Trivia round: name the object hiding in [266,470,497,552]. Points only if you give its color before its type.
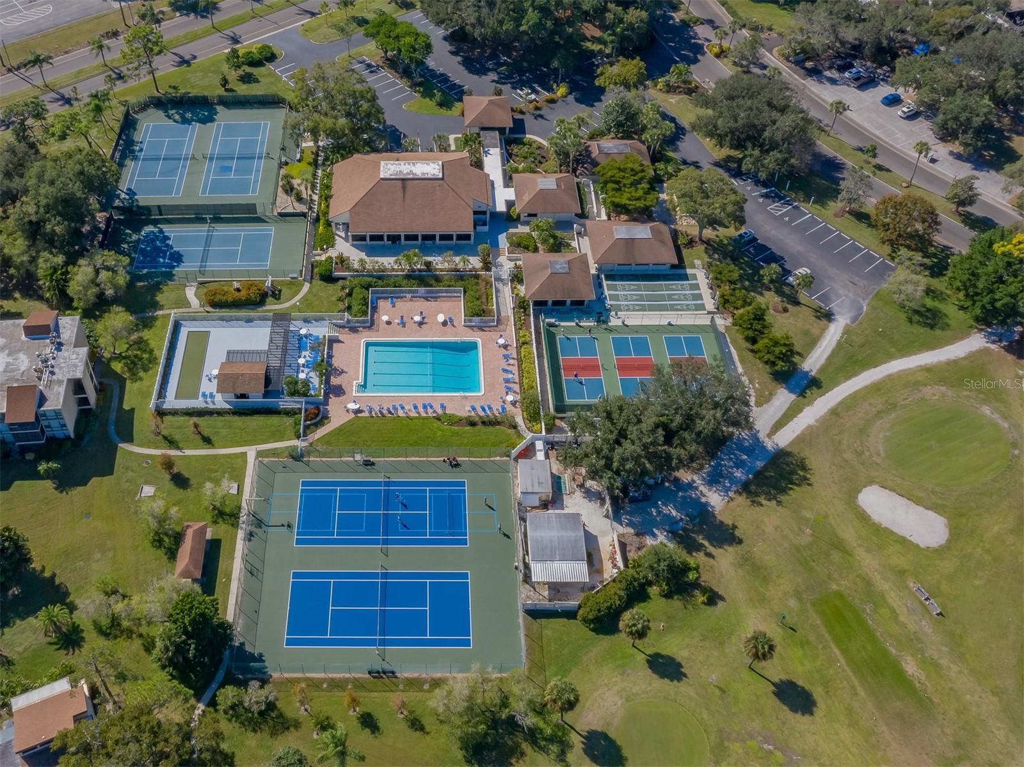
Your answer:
blue tennis court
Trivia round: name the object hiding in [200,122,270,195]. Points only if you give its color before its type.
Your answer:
blue tennis court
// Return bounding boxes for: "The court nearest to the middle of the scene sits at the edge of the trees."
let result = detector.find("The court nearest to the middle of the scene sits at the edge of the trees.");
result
[558,336,605,400]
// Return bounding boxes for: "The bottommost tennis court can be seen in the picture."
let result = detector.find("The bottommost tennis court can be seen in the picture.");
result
[284,561,472,655]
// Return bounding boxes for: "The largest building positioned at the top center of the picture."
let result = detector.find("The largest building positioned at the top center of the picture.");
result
[329,153,492,246]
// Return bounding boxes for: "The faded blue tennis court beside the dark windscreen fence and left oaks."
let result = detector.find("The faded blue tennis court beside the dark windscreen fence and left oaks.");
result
[127,123,198,196]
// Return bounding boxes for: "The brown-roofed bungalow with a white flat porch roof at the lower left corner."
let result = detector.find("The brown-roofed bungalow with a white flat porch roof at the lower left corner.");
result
[11,678,96,760]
